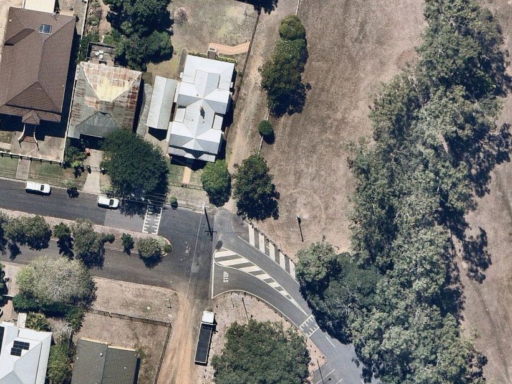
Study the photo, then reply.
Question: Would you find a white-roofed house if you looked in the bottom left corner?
Yes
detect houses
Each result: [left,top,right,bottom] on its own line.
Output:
[71,337,138,384]
[0,6,76,151]
[67,61,143,139]
[0,322,54,384]
[166,55,235,163]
